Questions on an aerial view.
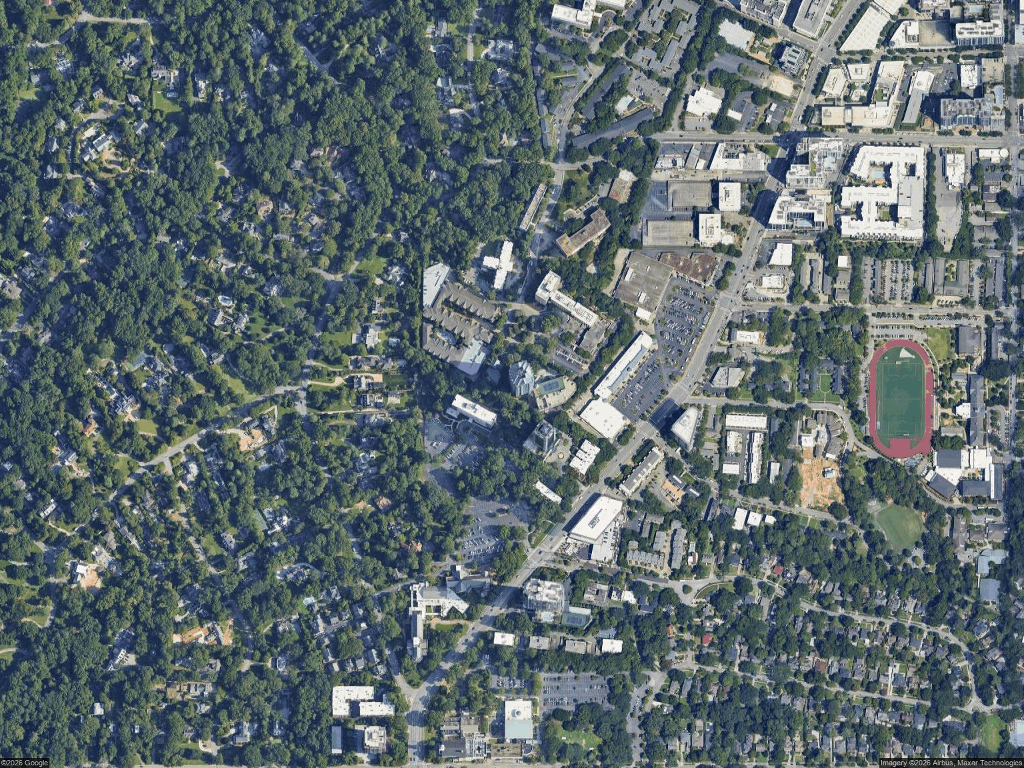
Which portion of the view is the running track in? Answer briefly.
right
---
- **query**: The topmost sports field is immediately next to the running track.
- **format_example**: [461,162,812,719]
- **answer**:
[928,328,955,363]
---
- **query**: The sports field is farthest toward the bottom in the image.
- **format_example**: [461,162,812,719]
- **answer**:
[878,504,925,550]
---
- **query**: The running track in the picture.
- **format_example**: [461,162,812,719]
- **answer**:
[869,339,933,458]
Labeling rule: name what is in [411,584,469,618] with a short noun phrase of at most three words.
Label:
building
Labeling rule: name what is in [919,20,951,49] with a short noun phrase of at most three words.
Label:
building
